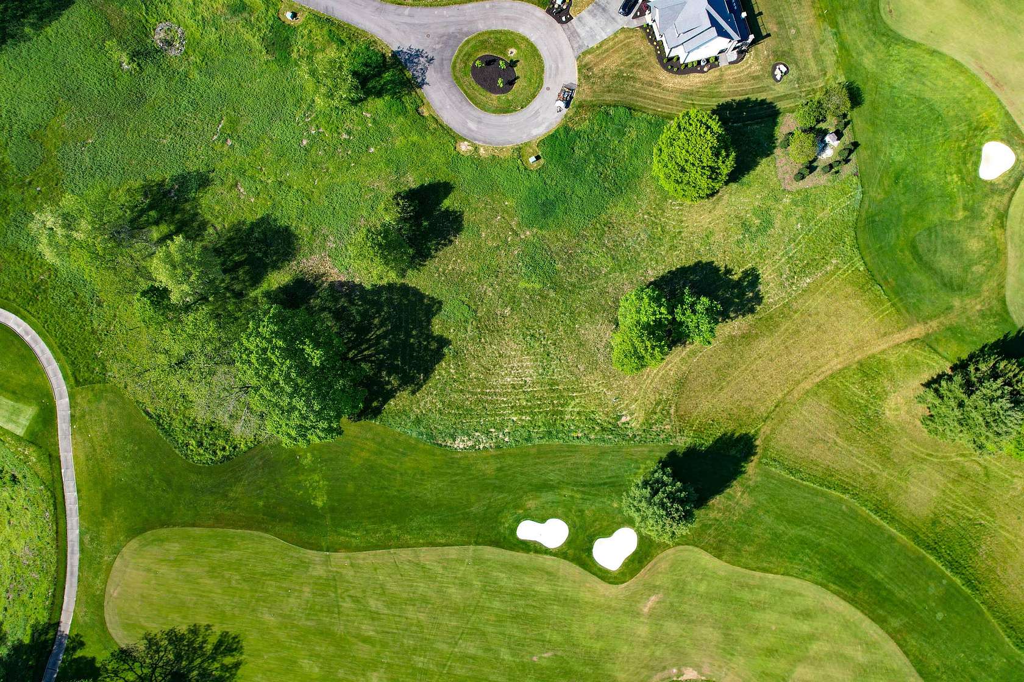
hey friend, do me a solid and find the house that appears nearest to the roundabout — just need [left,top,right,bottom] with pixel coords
[641,0,758,63]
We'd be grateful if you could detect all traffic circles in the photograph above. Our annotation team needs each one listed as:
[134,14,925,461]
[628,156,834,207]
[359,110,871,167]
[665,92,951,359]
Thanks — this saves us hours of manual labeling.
[410,0,576,145]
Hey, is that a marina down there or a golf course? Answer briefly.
golf course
